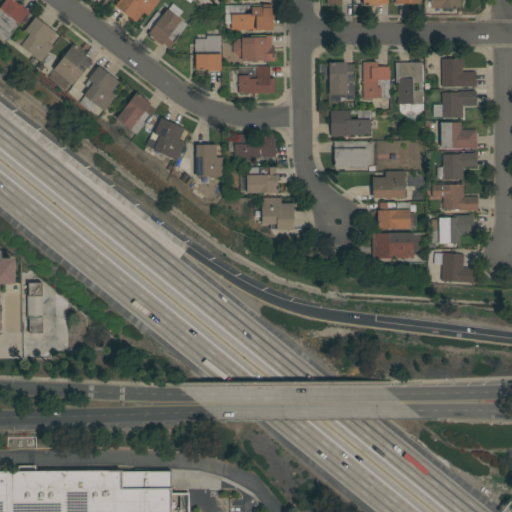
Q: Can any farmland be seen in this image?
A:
No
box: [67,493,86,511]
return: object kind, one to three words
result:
solar array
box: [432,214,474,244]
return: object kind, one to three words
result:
house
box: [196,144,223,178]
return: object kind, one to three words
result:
house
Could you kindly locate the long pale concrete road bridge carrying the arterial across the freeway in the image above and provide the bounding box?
[176,382,424,420]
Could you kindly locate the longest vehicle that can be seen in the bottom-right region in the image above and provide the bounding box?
[394,446,424,470]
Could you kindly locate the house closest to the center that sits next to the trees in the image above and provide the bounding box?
[254,198,295,230]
